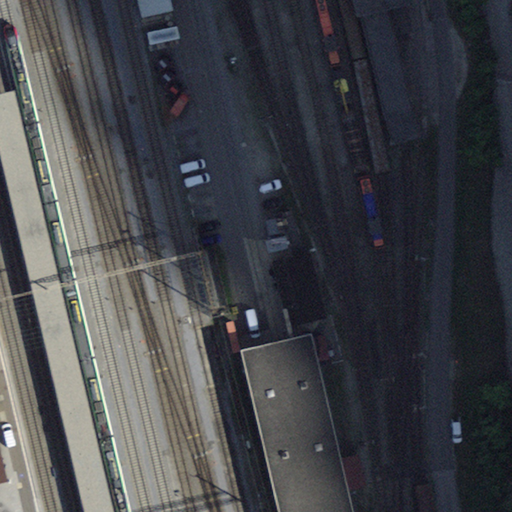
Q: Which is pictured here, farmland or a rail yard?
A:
rail yard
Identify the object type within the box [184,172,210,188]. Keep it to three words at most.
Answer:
vehicle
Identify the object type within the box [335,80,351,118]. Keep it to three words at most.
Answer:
work vehicle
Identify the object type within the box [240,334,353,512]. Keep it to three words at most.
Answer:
building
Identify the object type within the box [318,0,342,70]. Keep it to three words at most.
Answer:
rail car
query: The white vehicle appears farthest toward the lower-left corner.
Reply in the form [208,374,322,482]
[0,422,17,450]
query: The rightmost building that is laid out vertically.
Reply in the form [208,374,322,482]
[354,0,422,144]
